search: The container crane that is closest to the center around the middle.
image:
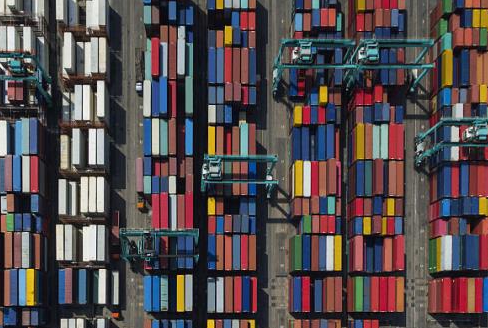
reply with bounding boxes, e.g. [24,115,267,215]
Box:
[201,153,280,200]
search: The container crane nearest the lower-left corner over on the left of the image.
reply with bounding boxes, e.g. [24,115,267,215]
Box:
[119,230,204,267]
